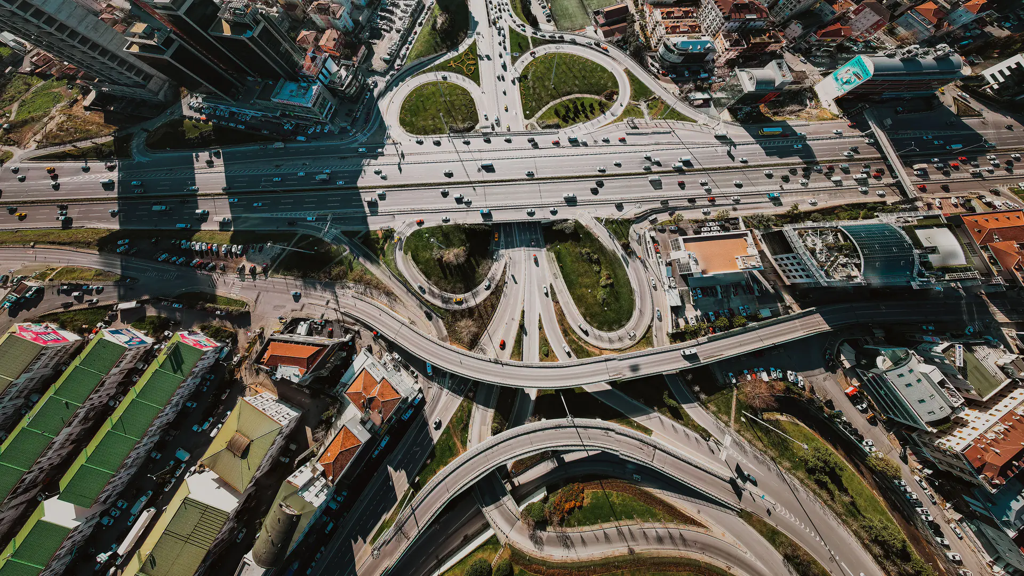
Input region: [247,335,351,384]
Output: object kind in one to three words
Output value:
building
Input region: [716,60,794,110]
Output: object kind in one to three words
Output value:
building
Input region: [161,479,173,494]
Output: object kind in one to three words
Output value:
vehicle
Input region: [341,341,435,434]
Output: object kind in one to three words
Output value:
house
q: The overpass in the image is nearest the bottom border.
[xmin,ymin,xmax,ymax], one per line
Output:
[347,415,857,576]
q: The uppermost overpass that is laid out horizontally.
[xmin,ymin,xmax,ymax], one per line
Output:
[266,287,1024,390]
